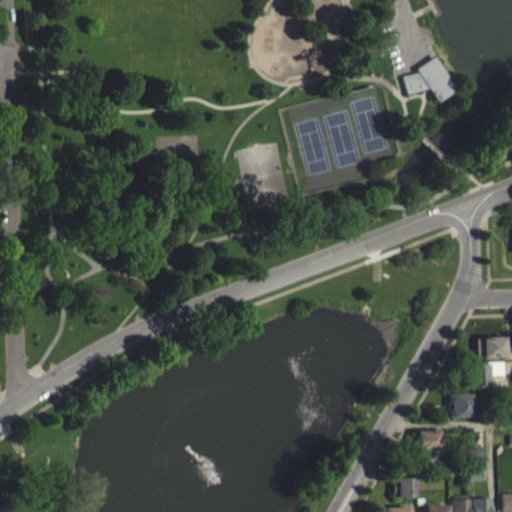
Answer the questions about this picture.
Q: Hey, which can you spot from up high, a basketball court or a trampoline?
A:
basketball court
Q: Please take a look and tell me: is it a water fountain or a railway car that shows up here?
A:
water fountain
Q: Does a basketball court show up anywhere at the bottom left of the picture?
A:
No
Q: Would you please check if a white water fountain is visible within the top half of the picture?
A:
No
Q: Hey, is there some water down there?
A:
Yes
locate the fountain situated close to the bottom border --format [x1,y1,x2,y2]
[186,446,223,489]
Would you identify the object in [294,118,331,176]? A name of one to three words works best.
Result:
tennis court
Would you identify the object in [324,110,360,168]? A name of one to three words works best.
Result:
tennis court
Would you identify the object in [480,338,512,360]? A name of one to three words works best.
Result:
house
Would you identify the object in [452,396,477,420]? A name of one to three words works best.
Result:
house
